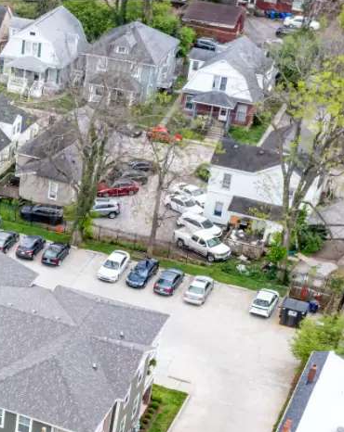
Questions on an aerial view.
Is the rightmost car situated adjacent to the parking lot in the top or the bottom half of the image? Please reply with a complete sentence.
It is in the bottom half that the rightmost car situated adjacent to the parking lot appears.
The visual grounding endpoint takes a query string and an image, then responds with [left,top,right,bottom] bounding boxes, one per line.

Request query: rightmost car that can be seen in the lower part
[249,286,278,313]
